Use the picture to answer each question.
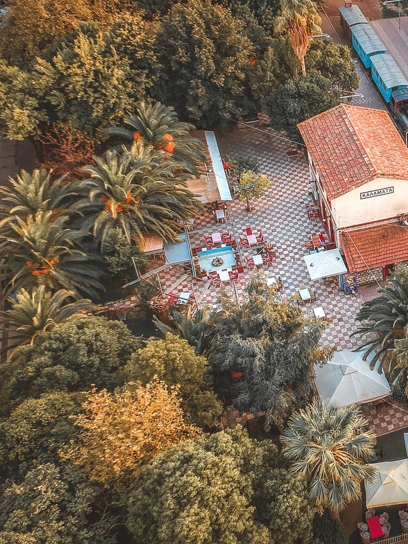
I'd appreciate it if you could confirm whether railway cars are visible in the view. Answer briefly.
Yes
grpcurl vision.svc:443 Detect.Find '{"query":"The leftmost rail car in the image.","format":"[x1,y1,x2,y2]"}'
[352,25,387,75]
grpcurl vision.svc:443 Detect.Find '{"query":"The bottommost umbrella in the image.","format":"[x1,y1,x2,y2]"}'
[363,457,408,508]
